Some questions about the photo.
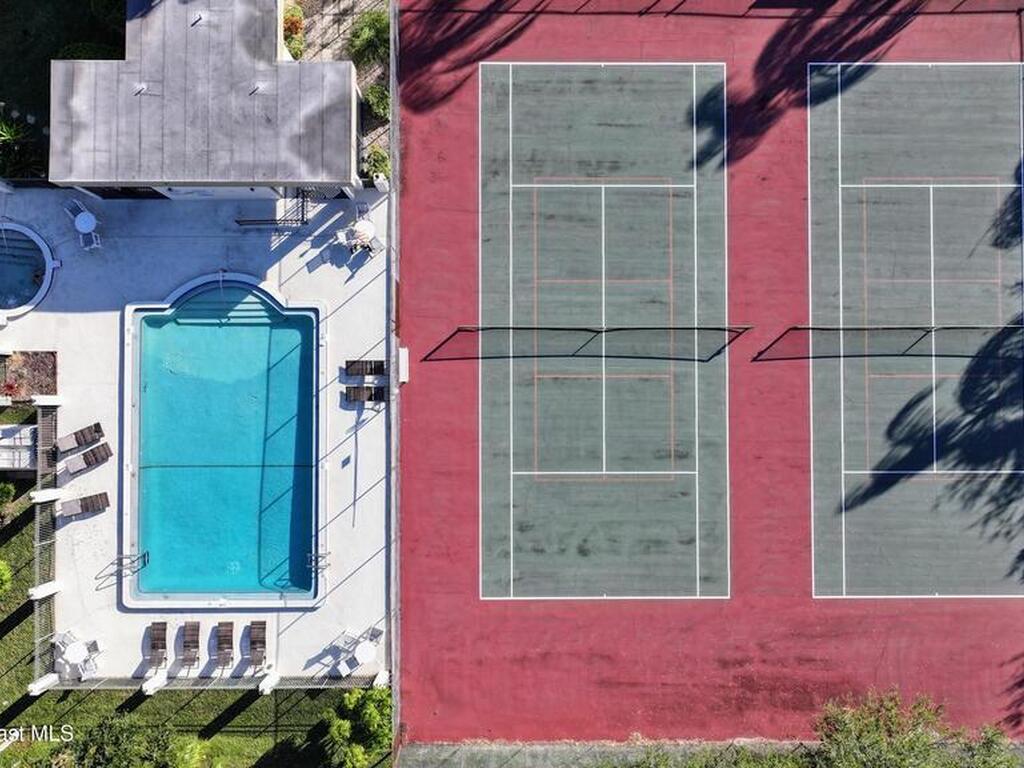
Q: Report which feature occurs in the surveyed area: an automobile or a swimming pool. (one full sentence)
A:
It is a swimming pool that can be seen here.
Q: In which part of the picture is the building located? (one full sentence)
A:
The building sits in the top left section of the image.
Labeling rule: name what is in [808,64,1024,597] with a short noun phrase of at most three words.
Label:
tennis court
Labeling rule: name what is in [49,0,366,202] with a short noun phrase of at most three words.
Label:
building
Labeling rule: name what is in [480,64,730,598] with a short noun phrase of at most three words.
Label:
tennis court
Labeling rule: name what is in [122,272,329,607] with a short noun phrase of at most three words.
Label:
swimming pool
